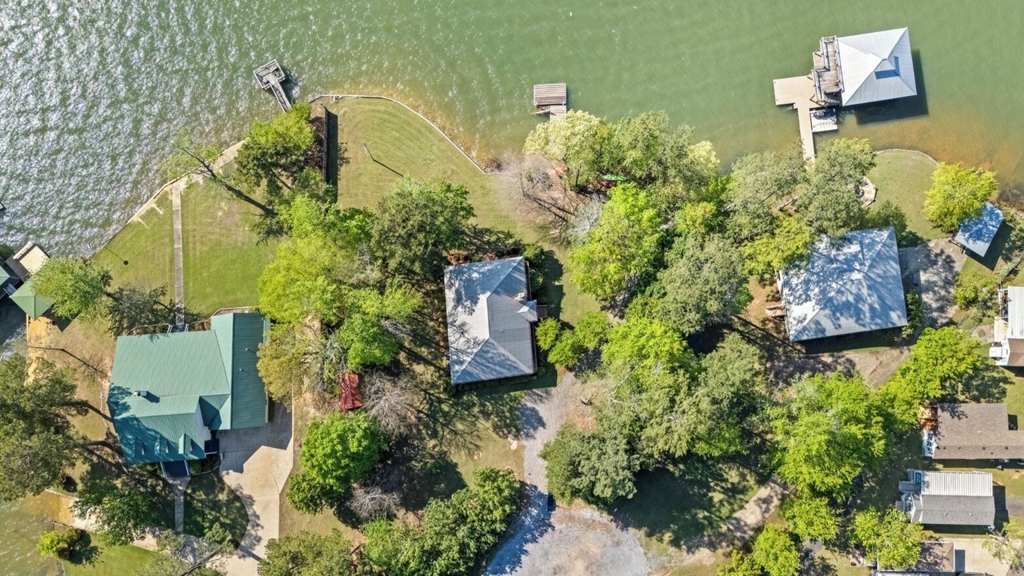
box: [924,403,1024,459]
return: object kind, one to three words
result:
house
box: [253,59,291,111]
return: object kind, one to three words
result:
pier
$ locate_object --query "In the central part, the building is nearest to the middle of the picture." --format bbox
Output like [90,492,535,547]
[444,256,543,384]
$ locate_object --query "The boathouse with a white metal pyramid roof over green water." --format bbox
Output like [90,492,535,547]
[835,27,917,111]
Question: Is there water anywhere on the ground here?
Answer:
Yes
